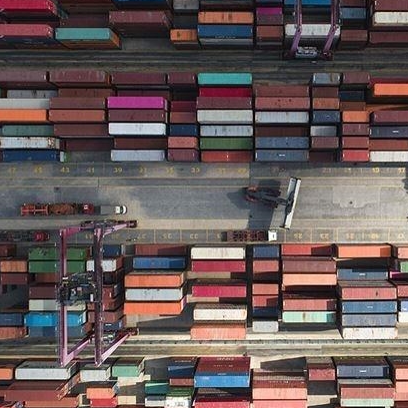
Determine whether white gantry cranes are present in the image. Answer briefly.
No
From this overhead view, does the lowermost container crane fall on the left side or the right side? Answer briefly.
left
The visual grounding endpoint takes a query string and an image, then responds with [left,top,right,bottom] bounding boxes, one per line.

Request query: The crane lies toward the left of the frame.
[53,219,144,375]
